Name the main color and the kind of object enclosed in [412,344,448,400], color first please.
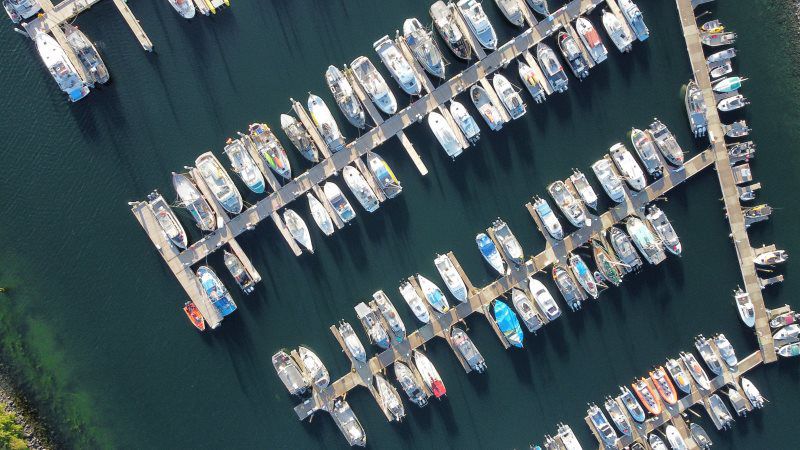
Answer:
white boat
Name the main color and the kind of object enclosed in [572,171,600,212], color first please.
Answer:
white boat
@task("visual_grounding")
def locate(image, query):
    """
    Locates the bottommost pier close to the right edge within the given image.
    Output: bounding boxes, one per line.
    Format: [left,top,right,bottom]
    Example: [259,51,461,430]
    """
[584,339,770,450]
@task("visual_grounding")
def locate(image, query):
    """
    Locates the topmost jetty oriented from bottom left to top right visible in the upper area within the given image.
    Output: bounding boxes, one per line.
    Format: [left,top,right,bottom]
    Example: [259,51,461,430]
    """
[180,0,636,279]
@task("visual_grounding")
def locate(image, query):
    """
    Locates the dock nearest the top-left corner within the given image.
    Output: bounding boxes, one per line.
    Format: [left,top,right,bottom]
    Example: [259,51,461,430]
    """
[14,0,152,83]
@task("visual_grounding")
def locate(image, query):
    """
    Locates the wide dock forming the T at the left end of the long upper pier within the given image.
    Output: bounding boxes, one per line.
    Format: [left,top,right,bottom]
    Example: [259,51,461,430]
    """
[128,199,225,330]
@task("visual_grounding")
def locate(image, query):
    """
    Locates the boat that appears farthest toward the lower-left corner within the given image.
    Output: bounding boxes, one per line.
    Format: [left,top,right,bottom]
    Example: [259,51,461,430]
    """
[183,298,205,330]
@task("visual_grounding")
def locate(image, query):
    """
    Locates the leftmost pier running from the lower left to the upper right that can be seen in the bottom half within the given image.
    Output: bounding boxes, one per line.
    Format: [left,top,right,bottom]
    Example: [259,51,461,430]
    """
[291,389,329,421]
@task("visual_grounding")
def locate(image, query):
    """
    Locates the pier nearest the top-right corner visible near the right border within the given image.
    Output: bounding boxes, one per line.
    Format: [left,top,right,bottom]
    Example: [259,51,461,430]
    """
[676,0,800,362]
